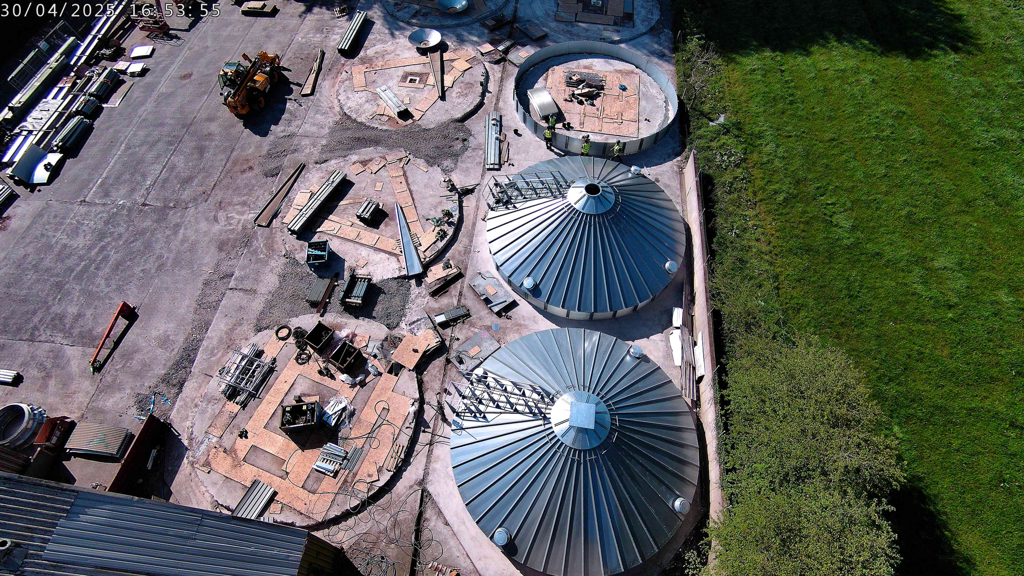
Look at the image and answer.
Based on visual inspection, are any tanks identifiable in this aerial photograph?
Yes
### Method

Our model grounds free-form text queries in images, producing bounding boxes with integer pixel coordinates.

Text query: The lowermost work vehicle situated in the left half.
[200,35,287,119]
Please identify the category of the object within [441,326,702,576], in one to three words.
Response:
storage tank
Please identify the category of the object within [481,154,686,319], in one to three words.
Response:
storage tank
